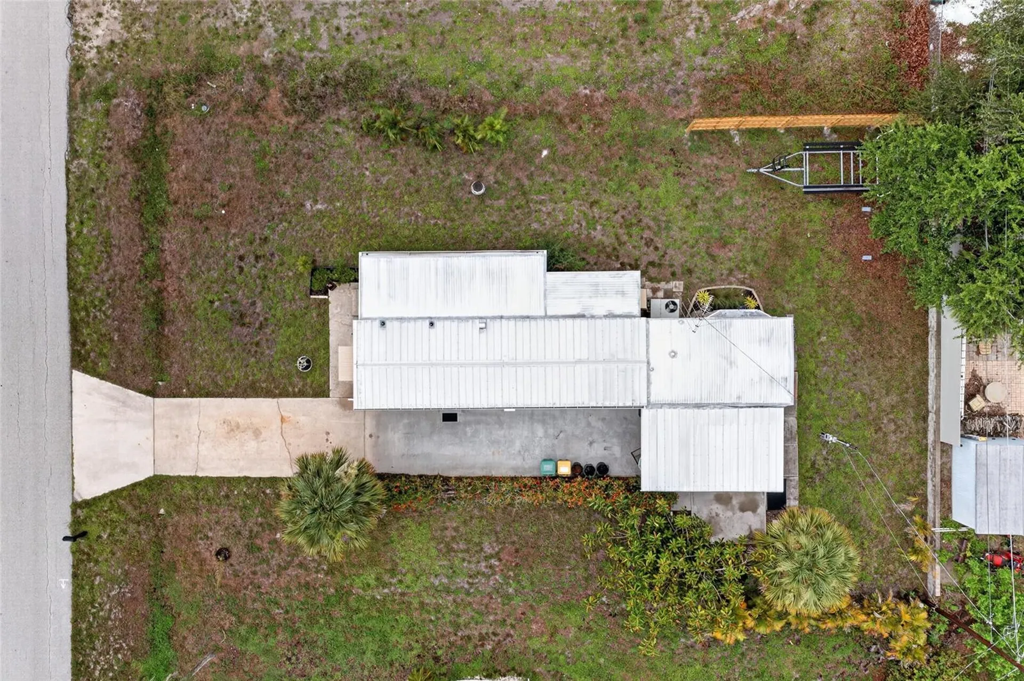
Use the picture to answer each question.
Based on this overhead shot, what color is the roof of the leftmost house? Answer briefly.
white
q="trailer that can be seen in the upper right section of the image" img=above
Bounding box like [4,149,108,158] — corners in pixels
[747,132,889,197]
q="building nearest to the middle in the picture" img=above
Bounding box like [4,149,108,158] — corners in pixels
[339,249,795,493]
